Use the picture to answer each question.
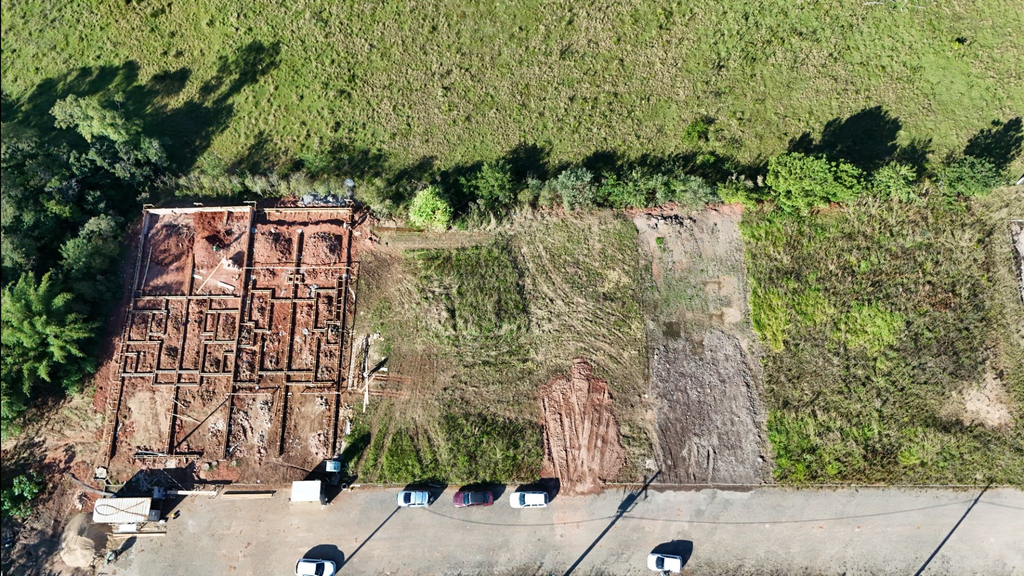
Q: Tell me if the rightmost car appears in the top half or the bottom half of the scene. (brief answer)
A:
bottom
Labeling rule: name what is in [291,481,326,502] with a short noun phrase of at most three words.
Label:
shed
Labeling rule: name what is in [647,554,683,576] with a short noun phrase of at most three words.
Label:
car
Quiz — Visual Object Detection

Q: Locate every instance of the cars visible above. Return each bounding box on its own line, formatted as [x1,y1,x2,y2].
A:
[396,490,433,507]
[509,491,548,508]
[295,558,338,576]
[647,554,683,576]
[454,490,494,507]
